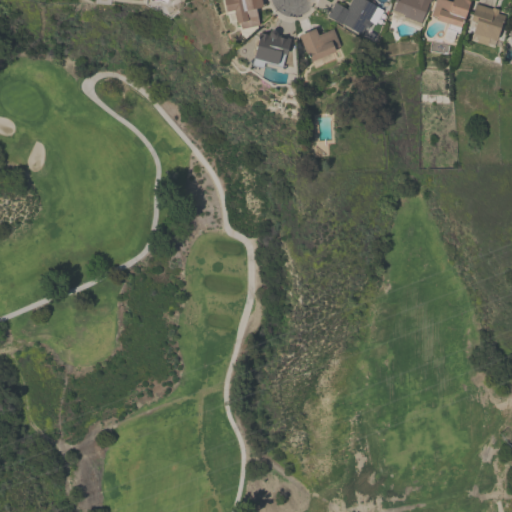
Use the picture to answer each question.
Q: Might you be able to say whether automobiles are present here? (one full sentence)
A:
No, no automobile is visible in the scene.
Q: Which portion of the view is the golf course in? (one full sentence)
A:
You can find the golf course in the left area of the picture.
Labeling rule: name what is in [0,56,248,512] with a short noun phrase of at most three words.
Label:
golf course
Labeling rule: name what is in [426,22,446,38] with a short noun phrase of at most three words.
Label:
swimming pool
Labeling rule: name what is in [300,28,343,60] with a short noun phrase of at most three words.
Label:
house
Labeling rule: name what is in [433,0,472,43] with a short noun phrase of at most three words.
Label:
house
